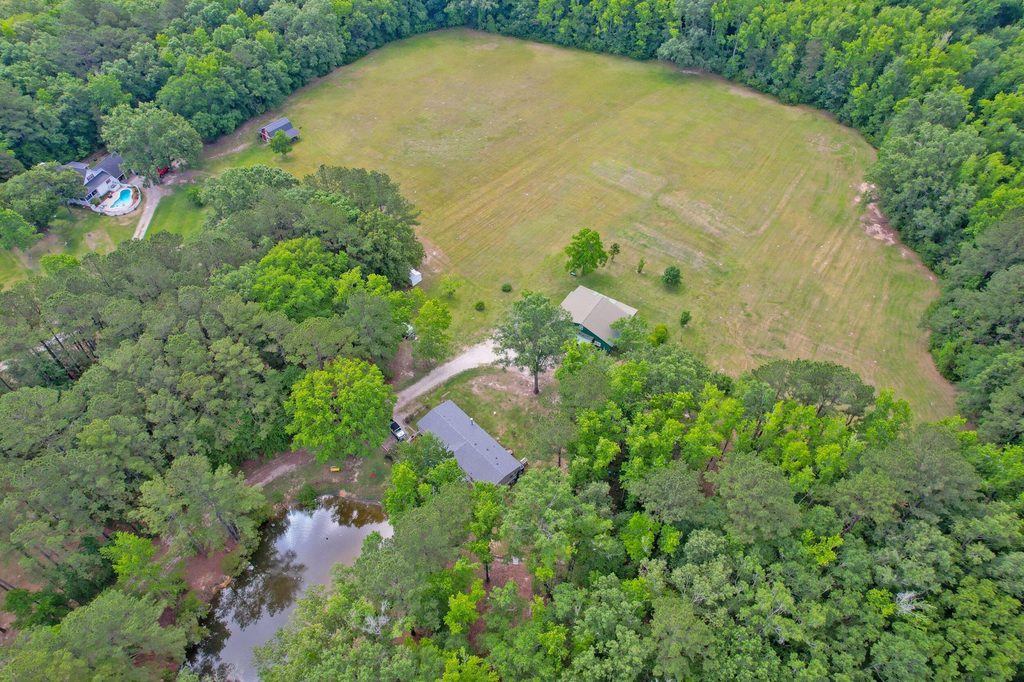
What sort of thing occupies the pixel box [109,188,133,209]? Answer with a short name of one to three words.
swimming pool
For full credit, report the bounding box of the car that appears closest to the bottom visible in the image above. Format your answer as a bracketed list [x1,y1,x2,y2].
[391,417,410,441]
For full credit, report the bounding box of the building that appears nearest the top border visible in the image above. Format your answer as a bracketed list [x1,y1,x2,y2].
[260,117,302,150]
